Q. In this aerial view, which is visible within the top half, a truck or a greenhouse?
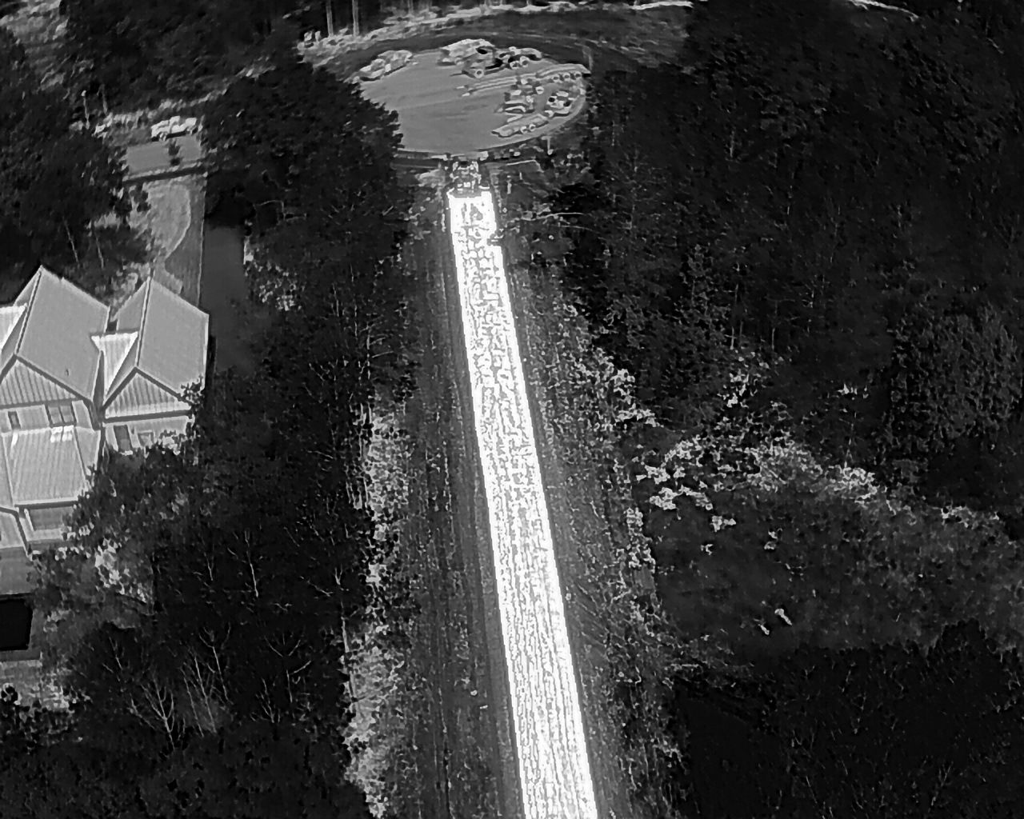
truck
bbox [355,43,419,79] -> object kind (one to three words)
truck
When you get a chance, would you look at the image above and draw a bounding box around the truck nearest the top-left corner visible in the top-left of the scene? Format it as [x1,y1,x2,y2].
[149,116,201,143]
